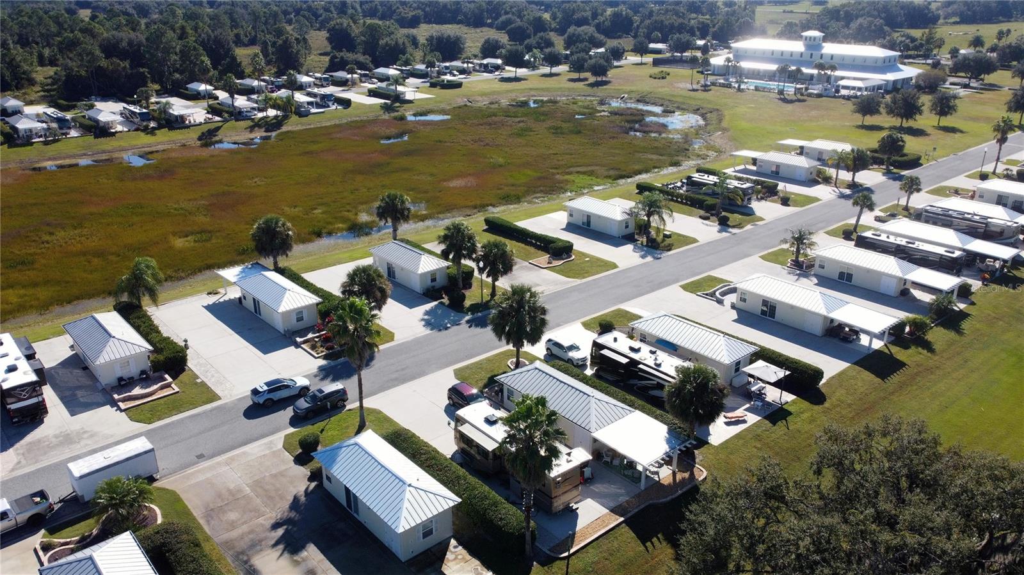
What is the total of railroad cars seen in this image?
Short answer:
0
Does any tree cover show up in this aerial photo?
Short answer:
Yes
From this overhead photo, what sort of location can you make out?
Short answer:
residential area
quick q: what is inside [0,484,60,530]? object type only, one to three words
truck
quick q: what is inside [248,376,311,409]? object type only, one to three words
car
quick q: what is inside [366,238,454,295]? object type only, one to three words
house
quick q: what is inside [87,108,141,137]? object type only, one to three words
house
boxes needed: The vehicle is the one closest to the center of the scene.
[542,330,590,365]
